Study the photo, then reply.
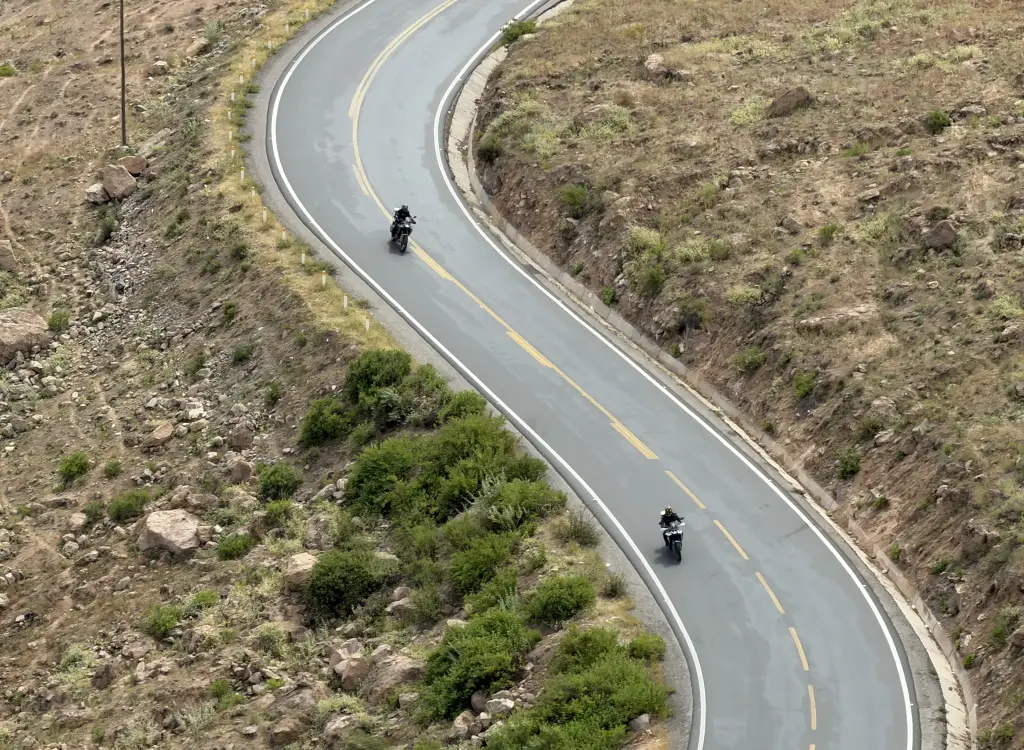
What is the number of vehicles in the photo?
2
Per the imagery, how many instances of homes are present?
none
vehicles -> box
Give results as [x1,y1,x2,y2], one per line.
[658,521,687,563]
[390,216,418,253]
